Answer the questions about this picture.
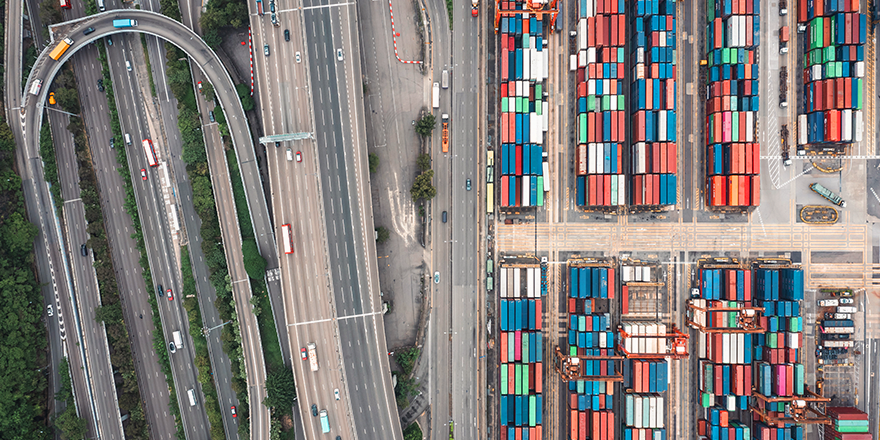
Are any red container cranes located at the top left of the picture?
No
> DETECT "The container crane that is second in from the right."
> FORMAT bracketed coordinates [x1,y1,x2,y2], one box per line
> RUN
[687,298,767,333]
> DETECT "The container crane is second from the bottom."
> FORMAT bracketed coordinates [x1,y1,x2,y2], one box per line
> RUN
[559,343,625,382]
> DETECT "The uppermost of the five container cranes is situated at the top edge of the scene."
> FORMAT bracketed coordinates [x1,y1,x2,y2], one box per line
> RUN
[494,0,560,29]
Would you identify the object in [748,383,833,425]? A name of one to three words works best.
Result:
container crane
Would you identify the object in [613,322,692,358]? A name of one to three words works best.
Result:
container crane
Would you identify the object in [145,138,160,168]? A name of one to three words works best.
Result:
vehicle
